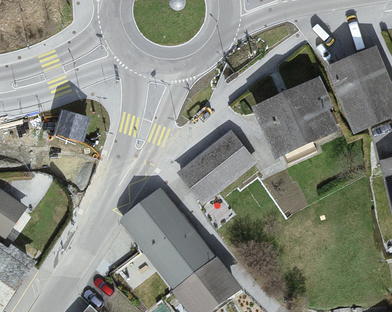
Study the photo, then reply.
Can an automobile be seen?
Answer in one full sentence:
Yes, looking at the shot, I can spot an automobile.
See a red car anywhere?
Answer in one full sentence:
Yes, looking at the shot, I can spot a red car.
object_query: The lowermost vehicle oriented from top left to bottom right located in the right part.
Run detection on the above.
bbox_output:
[314,41,332,63]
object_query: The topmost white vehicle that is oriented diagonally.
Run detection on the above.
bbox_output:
[310,22,333,46]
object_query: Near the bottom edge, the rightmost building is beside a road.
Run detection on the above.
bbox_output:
[172,256,242,312]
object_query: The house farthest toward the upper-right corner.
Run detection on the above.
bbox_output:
[328,45,392,133]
